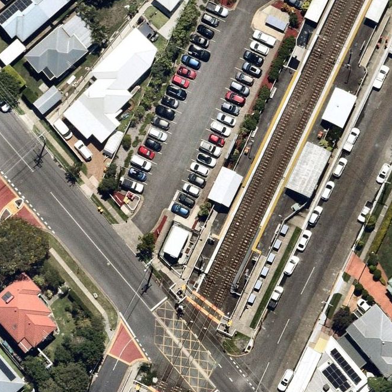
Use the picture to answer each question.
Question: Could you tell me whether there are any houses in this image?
Yes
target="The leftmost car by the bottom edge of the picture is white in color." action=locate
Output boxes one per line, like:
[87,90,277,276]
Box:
[279,371,293,391]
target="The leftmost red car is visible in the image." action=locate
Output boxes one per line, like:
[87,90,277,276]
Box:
[136,147,156,162]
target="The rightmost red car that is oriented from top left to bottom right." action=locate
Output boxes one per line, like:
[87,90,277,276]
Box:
[225,92,244,108]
